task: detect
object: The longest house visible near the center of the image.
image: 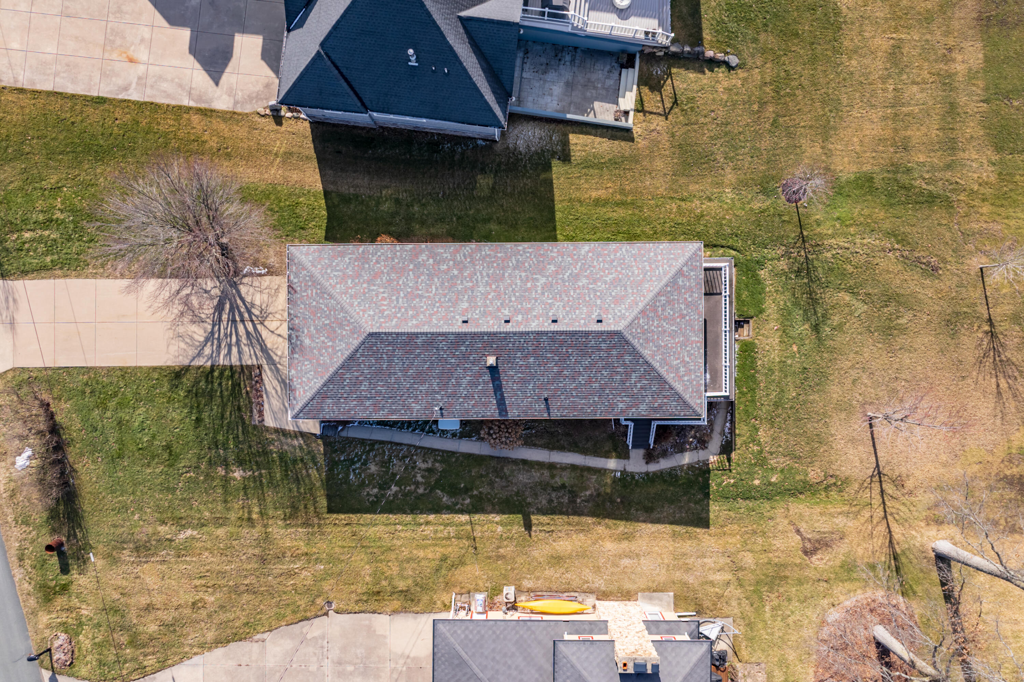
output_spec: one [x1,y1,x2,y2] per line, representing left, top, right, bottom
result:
[286,239,707,430]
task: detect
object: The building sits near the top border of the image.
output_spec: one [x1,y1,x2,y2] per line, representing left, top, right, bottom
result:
[275,0,523,149]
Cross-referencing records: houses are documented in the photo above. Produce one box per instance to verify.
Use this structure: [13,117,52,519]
[431,598,713,682]
[286,239,707,430]
[275,0,523,149]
